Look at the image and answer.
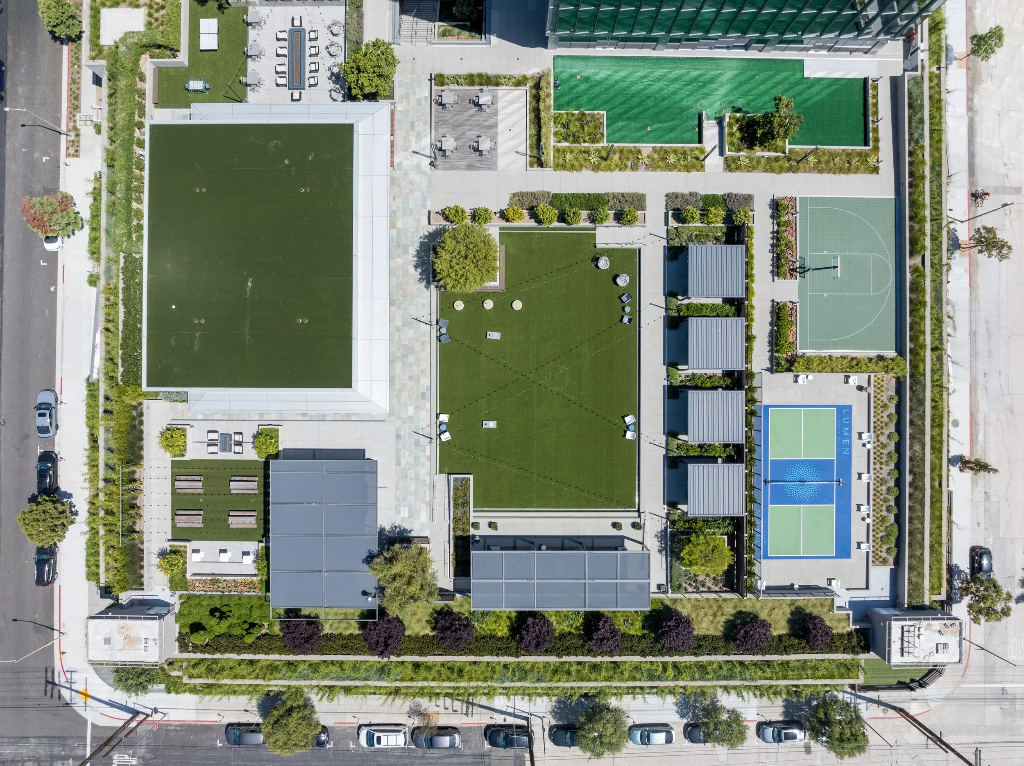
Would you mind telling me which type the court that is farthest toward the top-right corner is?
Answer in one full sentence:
The court that is farthest toward the top-right corner can be classified as a basketball court.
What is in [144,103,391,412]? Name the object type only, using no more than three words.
building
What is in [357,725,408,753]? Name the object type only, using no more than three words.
car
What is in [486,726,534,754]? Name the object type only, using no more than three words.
car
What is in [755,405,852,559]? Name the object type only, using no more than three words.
sports court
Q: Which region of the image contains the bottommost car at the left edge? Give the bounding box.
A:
[28,548,57,592]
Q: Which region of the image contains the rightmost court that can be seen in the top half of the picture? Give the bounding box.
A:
[799,196,896,353]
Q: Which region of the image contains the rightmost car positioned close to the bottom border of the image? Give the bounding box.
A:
[761,721,810,749]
